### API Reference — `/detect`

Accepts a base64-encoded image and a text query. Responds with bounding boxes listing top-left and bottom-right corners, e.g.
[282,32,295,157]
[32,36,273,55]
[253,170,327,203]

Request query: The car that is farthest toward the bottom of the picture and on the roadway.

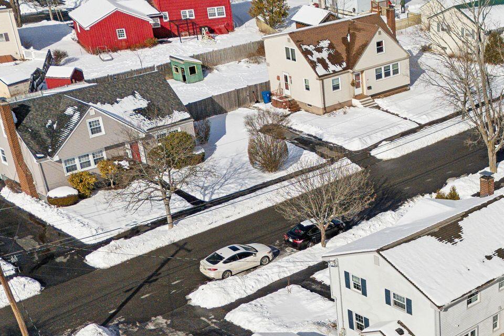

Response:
[196,247,270,281]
